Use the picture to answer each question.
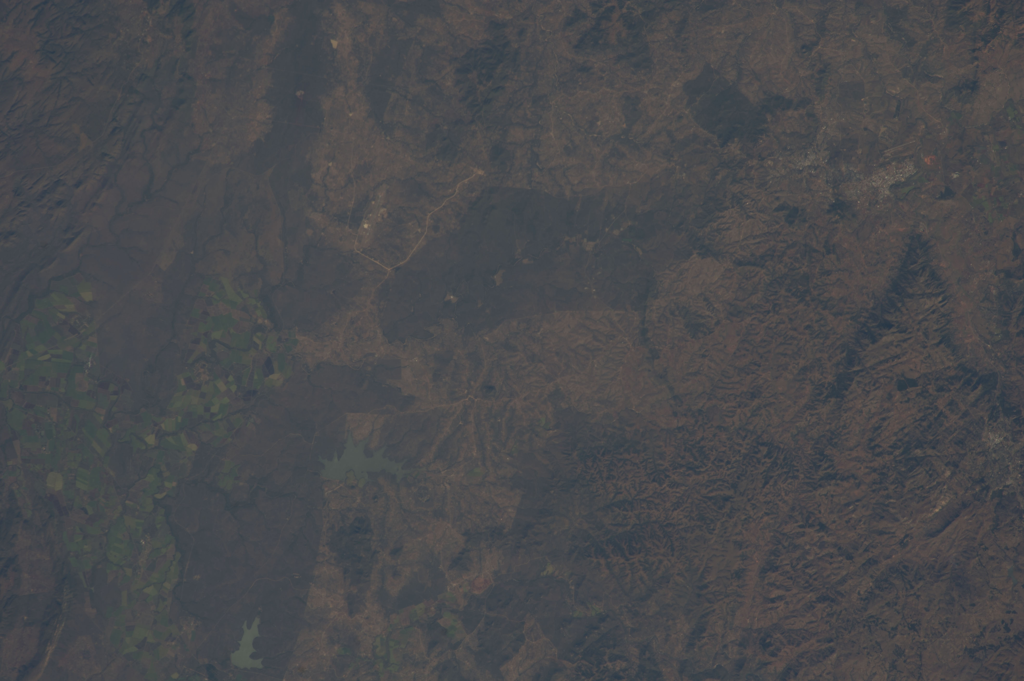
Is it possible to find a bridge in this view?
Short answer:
No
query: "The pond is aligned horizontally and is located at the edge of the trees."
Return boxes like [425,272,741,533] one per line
[318,430,426,483]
